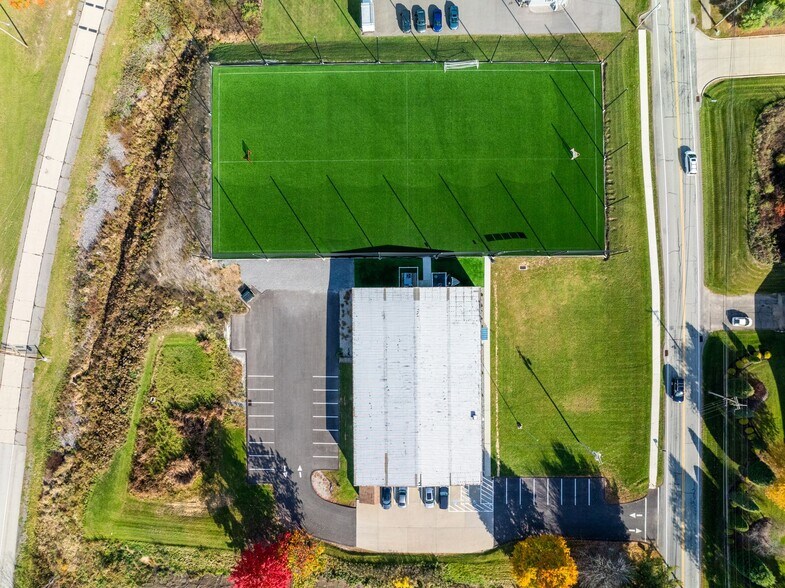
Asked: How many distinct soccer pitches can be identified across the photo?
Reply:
1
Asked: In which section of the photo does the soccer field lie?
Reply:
top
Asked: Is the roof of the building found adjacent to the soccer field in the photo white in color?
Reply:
Yes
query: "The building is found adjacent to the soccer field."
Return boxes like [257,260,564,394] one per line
[353,288,484,488]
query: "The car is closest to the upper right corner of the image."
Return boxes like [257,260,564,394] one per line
[685,151,698,176]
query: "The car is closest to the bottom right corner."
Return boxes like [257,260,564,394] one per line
[672,376,685,401]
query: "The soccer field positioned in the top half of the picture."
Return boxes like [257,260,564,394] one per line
[211,61,606,256]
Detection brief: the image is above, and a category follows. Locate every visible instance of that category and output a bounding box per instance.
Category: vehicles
[448,4,459,29]
[414,8,425,32]
[728,316,750,327]
[362,0,375,29]
[438,487,449,508]
[672,376,685,401]
[382,487,392,508]
[685,151,698,176]
[424,487,435,507]
[396,487,407,508]
[432,7,442,31]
